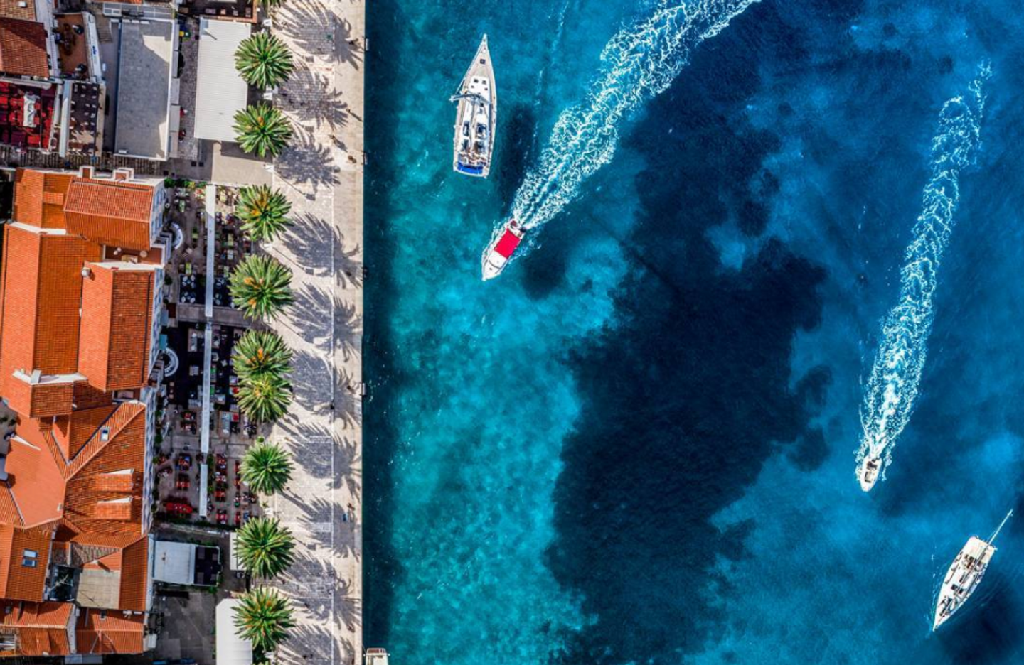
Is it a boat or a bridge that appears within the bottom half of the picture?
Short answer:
boat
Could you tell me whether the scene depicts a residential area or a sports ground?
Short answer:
residential area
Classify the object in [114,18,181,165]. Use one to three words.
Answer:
building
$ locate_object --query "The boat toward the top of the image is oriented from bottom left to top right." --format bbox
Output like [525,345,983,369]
[484,220,526,280]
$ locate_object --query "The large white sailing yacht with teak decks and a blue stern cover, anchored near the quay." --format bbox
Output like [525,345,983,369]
[450,31,498,180]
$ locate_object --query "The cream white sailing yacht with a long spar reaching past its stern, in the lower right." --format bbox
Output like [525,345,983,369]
[930,503,1006,631]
